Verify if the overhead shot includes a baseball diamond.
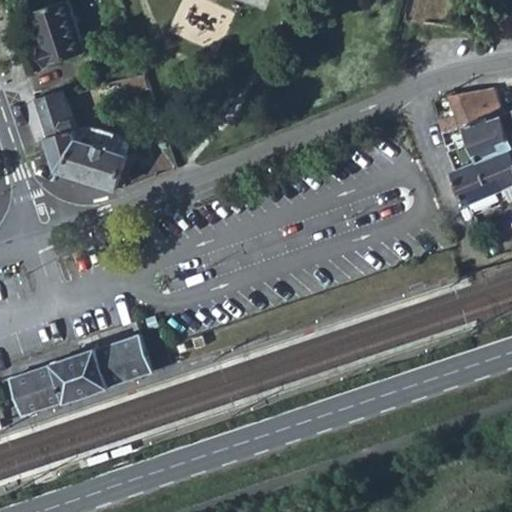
No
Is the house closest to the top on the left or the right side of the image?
left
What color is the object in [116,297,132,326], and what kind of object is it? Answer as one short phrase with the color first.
white vehicle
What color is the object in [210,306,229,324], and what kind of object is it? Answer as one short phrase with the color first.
white car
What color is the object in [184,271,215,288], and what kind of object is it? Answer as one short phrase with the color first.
white vehicle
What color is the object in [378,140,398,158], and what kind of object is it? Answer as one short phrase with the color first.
white car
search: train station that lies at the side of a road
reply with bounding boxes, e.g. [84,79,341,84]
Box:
[0,278,477,493]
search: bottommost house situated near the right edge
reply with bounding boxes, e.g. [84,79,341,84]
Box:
[450,150,512,213]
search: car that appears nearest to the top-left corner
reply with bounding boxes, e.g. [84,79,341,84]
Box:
[37,70,58,84]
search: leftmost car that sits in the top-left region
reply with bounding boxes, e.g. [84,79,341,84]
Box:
[10,102,24,125]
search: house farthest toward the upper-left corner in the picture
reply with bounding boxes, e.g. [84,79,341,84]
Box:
[33,1,82,70]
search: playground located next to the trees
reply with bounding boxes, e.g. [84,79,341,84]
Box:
[170,0,235,47]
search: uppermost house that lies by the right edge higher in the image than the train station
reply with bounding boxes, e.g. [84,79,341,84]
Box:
[438,87,502,132]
